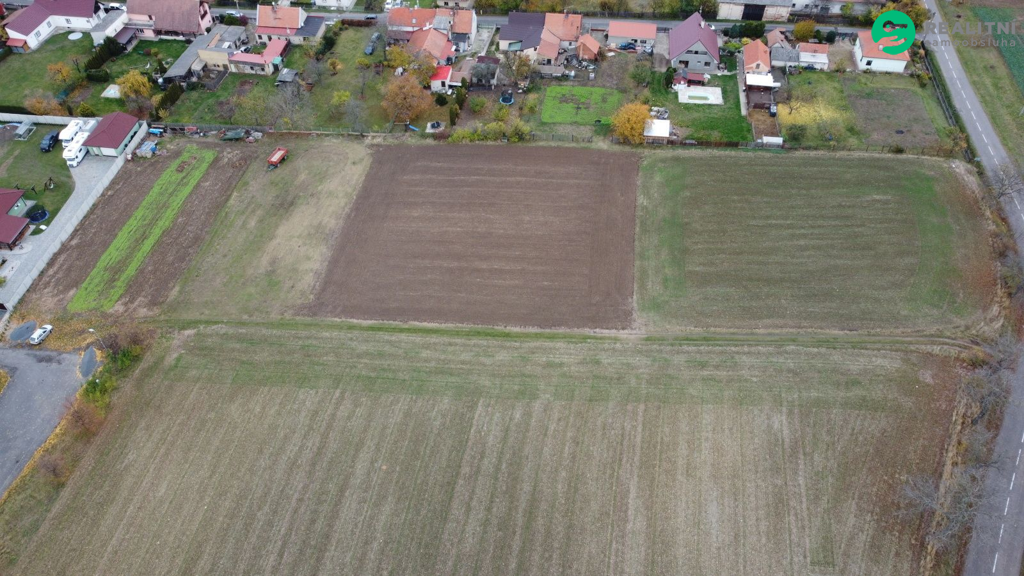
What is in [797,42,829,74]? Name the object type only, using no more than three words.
house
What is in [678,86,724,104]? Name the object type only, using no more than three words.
swimming pool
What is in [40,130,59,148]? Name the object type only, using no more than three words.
vehicle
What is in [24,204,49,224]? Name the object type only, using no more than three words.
trampoline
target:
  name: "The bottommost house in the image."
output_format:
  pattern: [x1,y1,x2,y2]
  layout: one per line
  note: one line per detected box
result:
[0,186,33,253]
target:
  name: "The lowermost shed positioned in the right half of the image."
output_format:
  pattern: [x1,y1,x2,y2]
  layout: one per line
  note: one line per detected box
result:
[643,120,670,145]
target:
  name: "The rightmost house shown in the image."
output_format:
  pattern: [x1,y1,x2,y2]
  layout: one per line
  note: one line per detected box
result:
[854,33,910,75]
